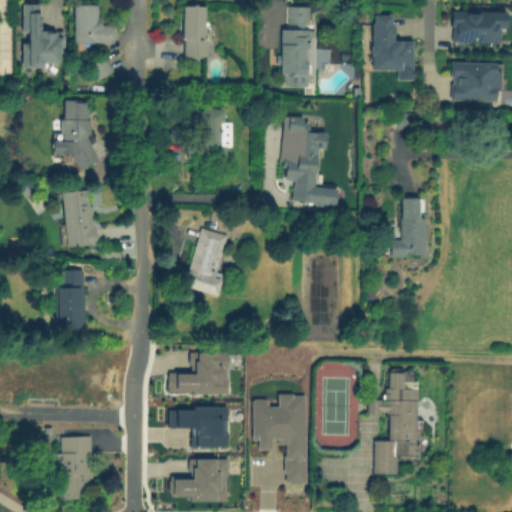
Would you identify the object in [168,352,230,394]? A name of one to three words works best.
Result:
house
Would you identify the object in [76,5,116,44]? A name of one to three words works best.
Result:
house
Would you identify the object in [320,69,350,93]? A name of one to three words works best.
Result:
swimming pool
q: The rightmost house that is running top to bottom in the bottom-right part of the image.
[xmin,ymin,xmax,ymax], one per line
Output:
[372,372,421,476]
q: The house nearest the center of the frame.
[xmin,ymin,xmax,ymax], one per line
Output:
[189,230,230,296]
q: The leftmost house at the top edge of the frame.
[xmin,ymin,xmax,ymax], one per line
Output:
[24,4,66,68]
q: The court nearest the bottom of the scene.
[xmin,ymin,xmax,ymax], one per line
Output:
[316,362,358,446]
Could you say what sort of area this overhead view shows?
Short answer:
residential area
